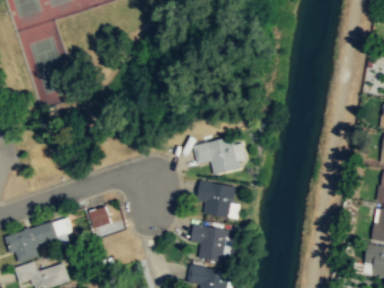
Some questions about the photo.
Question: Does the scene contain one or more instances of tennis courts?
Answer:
Yes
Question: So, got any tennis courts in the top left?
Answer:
Yes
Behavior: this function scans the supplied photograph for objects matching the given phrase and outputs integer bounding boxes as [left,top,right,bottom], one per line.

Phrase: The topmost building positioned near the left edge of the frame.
[5,218,74,264]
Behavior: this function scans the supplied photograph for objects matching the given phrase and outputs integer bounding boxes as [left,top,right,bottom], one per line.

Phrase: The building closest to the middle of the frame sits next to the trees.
[194,138,248,176]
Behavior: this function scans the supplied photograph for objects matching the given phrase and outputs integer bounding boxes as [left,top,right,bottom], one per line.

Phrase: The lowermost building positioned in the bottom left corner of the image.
[15,260,70,288]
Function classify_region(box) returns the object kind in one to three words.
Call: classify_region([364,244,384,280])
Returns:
house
